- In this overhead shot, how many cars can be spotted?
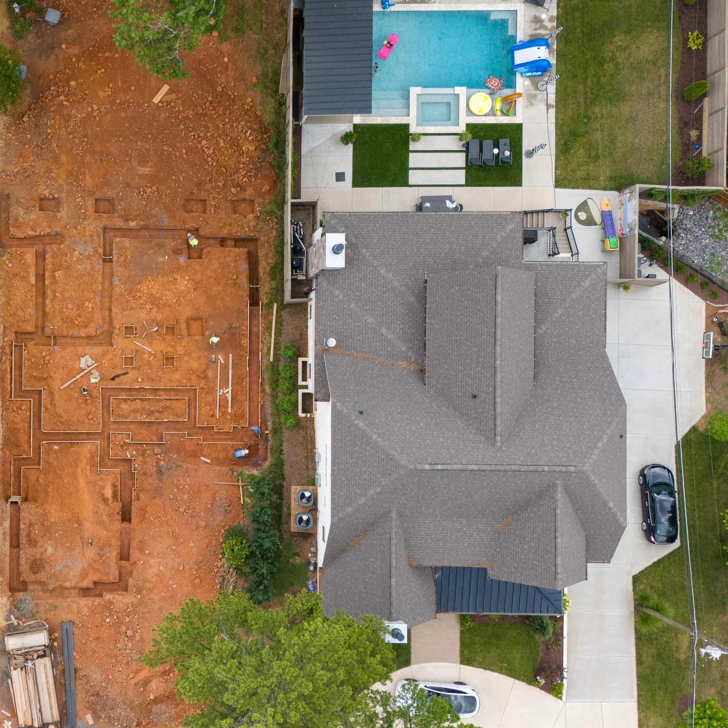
2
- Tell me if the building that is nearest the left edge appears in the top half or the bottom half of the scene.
top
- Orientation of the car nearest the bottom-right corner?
up and down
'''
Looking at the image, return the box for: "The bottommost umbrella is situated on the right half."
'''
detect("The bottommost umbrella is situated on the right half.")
[524,142,550,158]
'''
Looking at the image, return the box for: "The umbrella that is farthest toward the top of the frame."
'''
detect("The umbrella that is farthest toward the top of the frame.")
[543,21,570,42]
